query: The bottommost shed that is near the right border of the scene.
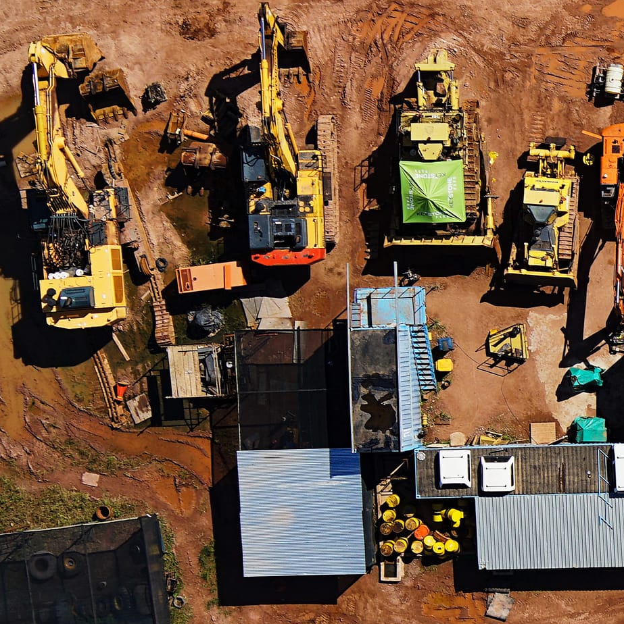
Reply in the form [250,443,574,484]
[475,494,624,569]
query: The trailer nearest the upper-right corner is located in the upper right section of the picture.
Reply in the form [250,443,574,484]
[593,57,624,99]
